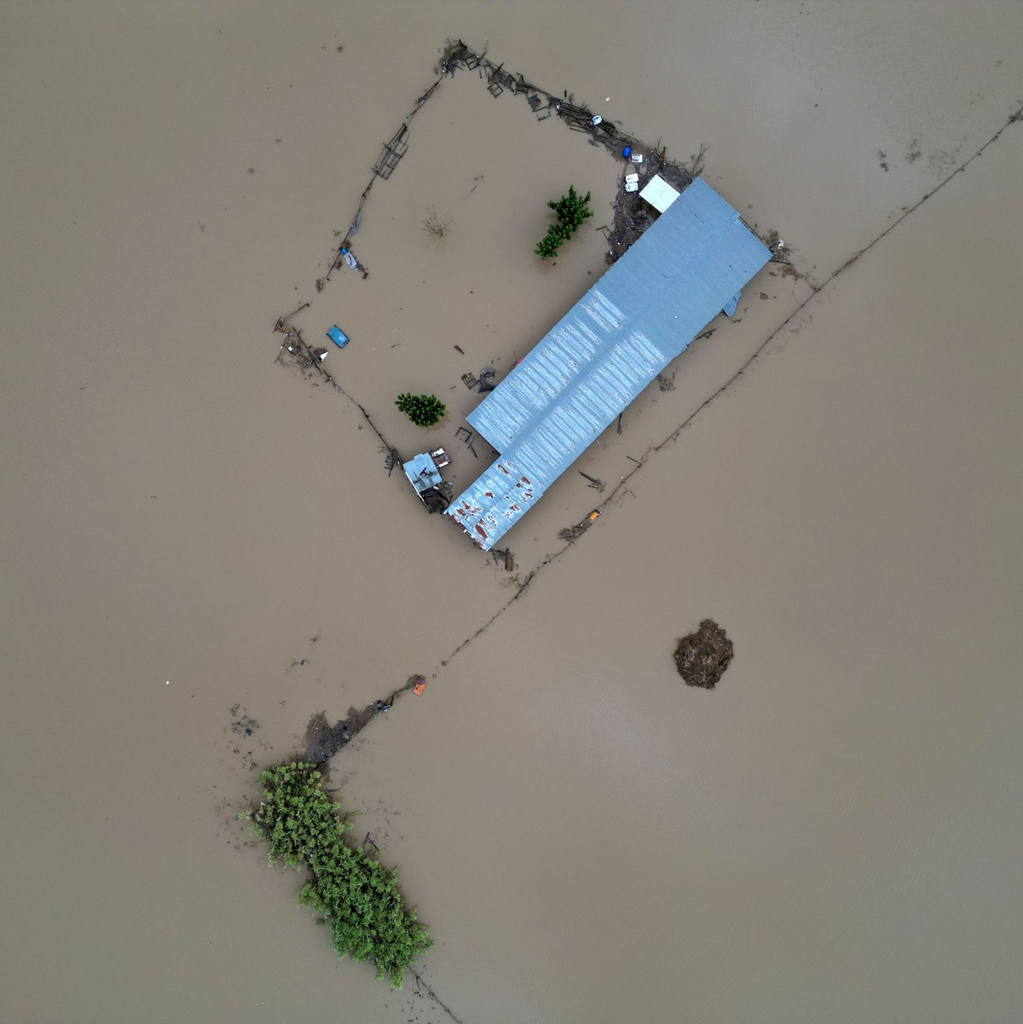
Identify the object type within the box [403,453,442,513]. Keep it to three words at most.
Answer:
shed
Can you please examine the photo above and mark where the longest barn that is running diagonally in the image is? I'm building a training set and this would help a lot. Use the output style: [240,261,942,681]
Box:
[444,177,773,551]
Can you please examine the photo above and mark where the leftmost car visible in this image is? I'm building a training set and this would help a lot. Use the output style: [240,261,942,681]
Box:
[326,324,350,348]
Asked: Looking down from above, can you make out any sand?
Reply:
No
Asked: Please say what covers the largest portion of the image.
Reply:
water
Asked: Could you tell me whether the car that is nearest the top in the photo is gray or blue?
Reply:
blue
